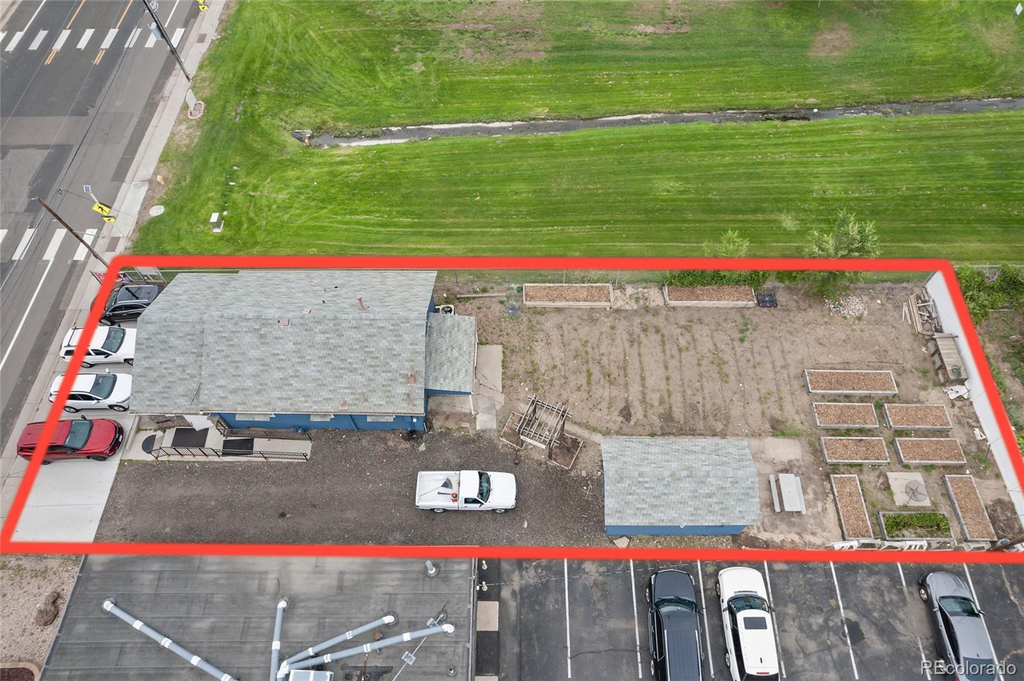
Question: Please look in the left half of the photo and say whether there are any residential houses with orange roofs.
No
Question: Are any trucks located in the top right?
No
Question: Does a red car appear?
Yes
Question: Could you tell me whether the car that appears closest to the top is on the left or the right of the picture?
left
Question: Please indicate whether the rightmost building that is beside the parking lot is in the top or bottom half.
bottom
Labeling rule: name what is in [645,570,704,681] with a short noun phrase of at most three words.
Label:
car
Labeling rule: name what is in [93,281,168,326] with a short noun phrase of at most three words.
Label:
car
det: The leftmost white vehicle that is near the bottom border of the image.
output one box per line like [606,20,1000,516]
[716,568,780,681]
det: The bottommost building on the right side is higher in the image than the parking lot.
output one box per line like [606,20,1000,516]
[599,437,760,537]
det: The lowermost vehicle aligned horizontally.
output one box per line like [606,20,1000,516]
[412,465,520,514]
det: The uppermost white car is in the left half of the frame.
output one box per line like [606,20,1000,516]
[65,329,139,369]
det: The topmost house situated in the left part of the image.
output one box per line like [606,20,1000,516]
[130,267,479,436]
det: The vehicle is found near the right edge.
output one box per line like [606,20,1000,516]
[919,572,998,681]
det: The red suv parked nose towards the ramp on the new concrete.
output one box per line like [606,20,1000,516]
[20,416,123,465]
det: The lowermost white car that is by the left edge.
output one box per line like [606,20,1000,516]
[50,371,135,413]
